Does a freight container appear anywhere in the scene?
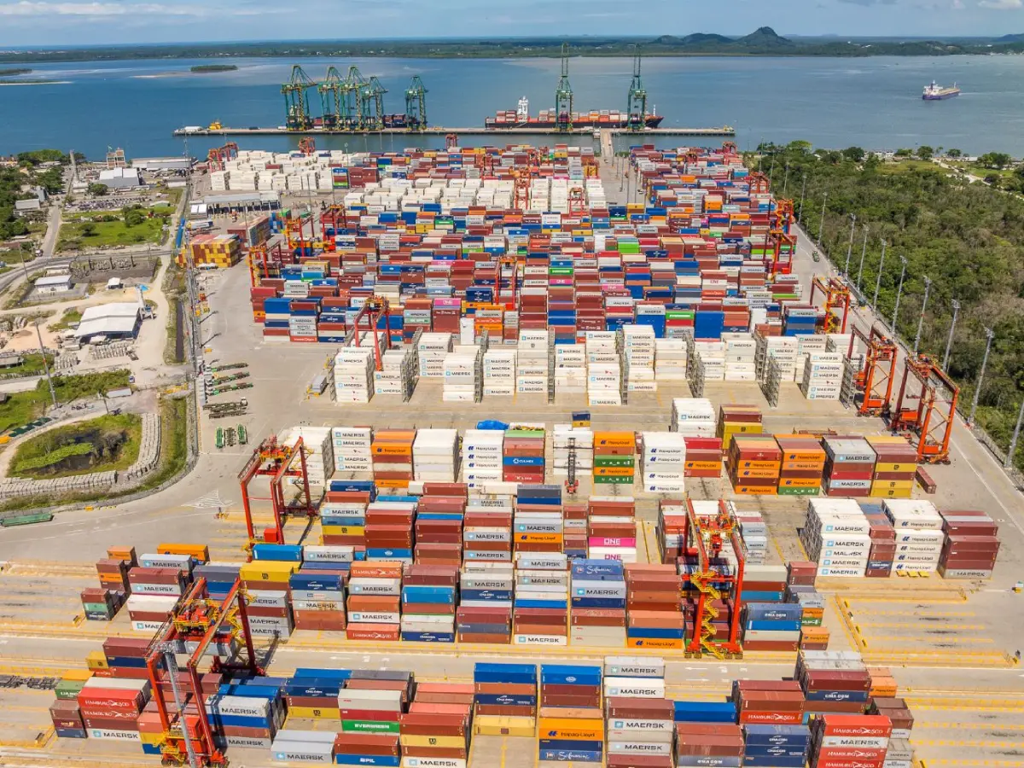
Yes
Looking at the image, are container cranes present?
Yes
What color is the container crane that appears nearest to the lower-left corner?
red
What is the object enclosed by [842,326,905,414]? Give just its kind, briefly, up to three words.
container crane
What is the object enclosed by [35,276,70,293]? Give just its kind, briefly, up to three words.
building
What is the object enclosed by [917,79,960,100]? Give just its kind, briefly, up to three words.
ship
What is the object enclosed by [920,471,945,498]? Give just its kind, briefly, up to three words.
shipping container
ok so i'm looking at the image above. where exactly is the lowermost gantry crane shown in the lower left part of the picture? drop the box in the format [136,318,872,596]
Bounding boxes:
[139,573,274,764]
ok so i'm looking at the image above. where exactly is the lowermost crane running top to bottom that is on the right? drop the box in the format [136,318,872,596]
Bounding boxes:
[677,500,751,659]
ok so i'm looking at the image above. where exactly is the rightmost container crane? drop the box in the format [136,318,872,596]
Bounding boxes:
[886,364,972,467]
